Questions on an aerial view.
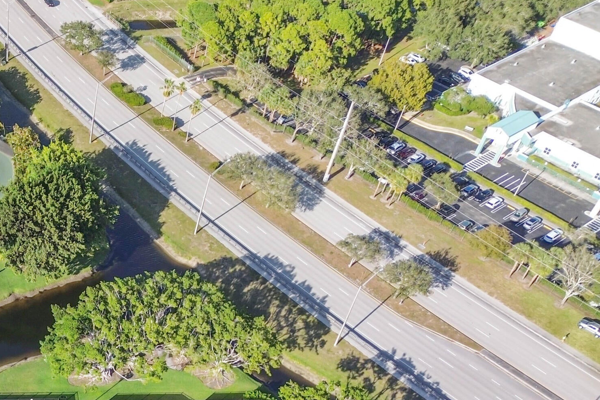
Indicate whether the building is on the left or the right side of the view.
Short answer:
right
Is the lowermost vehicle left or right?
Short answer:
right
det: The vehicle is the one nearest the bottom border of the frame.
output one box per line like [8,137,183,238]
[575,317,600,337]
